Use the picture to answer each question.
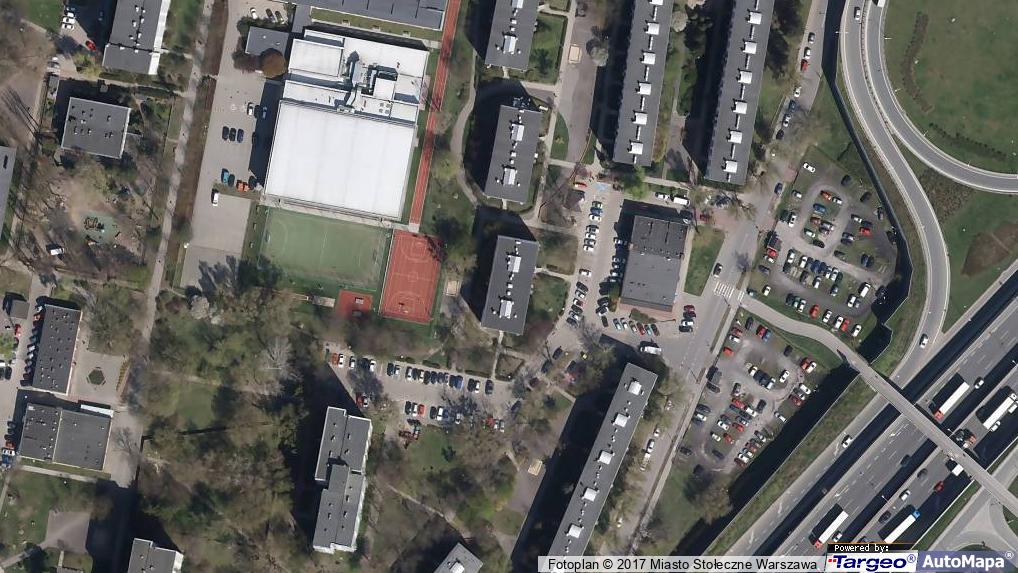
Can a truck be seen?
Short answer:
Yes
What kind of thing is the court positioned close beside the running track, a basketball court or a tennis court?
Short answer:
basketball court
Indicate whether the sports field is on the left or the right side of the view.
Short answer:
left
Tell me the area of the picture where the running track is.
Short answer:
top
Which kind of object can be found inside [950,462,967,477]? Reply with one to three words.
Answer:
vehicle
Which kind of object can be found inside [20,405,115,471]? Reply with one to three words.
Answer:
building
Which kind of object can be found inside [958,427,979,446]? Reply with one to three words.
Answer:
vehicle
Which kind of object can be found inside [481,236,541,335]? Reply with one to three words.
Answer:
building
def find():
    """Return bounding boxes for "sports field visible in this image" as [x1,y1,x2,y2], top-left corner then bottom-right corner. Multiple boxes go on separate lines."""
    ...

[257,209,391,291]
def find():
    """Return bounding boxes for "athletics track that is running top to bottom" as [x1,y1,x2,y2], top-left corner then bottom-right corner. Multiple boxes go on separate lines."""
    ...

[409,0,460,232]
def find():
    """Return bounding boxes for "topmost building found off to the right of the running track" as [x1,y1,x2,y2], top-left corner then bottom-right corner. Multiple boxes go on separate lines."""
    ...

[485,0,543,75]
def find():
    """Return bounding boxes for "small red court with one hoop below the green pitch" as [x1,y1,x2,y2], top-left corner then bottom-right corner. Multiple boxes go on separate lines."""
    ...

[334,290,373,319]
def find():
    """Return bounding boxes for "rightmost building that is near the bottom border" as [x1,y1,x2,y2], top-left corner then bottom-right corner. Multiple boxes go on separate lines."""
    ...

[540,363,659,573]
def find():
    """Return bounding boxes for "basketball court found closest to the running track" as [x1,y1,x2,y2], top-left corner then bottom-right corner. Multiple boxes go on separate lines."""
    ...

[380,230,441,324]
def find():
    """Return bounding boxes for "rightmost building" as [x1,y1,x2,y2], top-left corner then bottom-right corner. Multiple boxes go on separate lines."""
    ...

[702,0,776,186]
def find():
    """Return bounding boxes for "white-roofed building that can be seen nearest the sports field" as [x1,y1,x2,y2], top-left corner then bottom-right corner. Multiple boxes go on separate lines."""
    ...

[264,30,430,224]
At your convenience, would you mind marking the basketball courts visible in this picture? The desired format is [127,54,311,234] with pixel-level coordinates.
[380,230,441,324]
[334,290,373,319]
